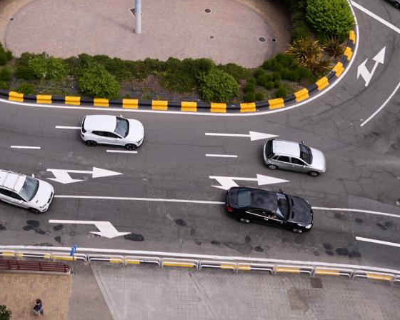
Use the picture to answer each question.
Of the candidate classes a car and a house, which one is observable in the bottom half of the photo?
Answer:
car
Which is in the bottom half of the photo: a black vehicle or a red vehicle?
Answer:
black vehicle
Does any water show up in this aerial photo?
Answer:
No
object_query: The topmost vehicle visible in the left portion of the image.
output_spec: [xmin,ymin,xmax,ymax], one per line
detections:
[79,119,145,154]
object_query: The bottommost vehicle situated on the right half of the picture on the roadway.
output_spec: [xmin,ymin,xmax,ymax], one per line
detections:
[225,188,314,237]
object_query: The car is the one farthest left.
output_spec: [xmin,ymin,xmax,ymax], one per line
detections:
[0,172,58,219]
